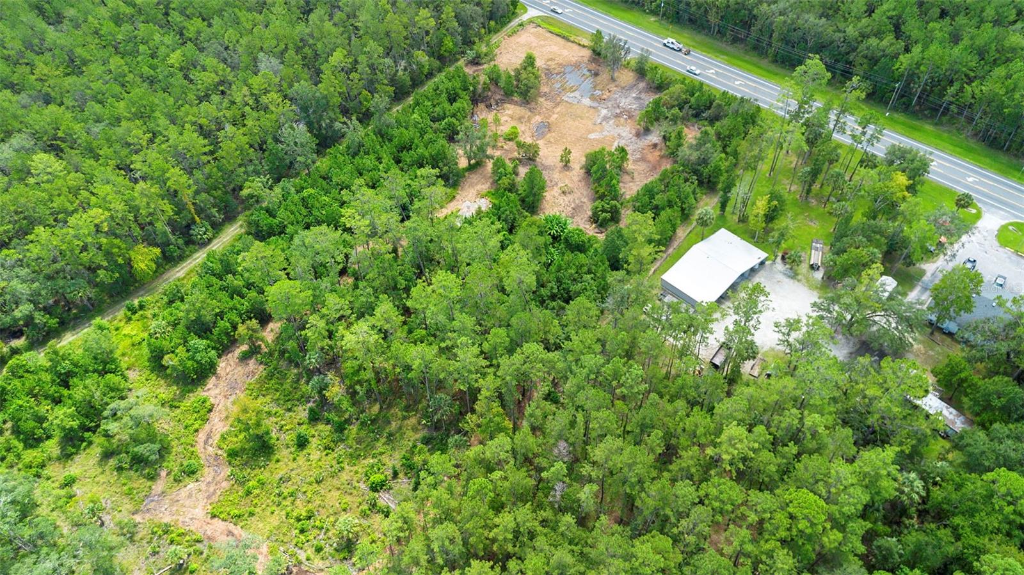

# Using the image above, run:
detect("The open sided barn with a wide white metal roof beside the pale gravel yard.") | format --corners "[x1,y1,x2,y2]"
[661,229,768,314]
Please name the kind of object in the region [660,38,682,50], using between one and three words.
vehicle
